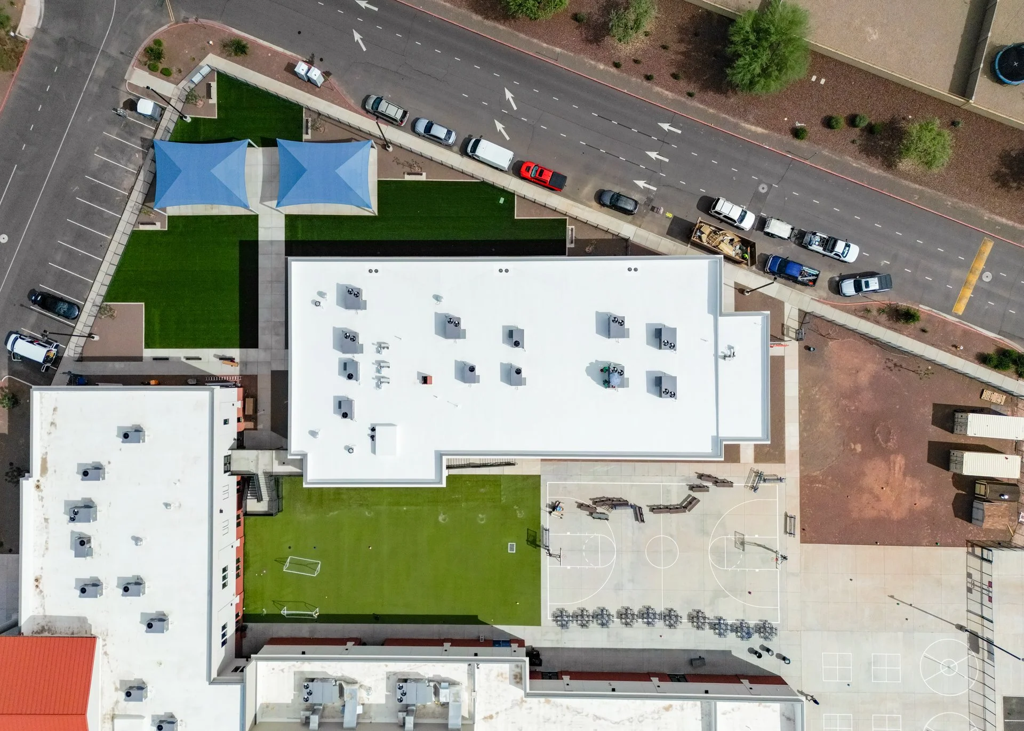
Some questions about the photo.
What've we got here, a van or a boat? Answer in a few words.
van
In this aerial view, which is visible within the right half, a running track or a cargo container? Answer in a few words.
cargo container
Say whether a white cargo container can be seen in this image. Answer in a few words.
Yes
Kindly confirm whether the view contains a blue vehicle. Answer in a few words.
Yes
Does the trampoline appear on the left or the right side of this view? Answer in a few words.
right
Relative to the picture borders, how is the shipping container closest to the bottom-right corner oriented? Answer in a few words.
from left to right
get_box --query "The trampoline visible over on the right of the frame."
[992,42,1024,87]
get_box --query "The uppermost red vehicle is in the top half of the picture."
[518,162,568,194]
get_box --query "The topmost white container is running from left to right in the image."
[954,413,1024,440]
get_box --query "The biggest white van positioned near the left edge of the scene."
[7,336,66,372]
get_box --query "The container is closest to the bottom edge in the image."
[950,450,1021,479]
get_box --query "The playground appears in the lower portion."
[801,543,1024,731]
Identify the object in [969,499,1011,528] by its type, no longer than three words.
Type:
shed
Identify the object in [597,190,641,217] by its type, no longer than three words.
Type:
car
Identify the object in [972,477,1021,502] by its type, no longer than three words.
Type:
shed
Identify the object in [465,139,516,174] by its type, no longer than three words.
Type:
van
